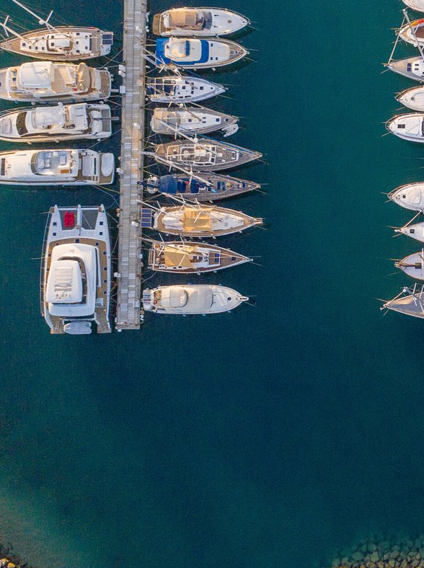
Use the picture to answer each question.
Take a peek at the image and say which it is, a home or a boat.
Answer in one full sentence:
I can see a boat in this picture.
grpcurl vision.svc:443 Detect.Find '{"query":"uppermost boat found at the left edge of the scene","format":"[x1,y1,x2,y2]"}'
[0,1,123,60]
